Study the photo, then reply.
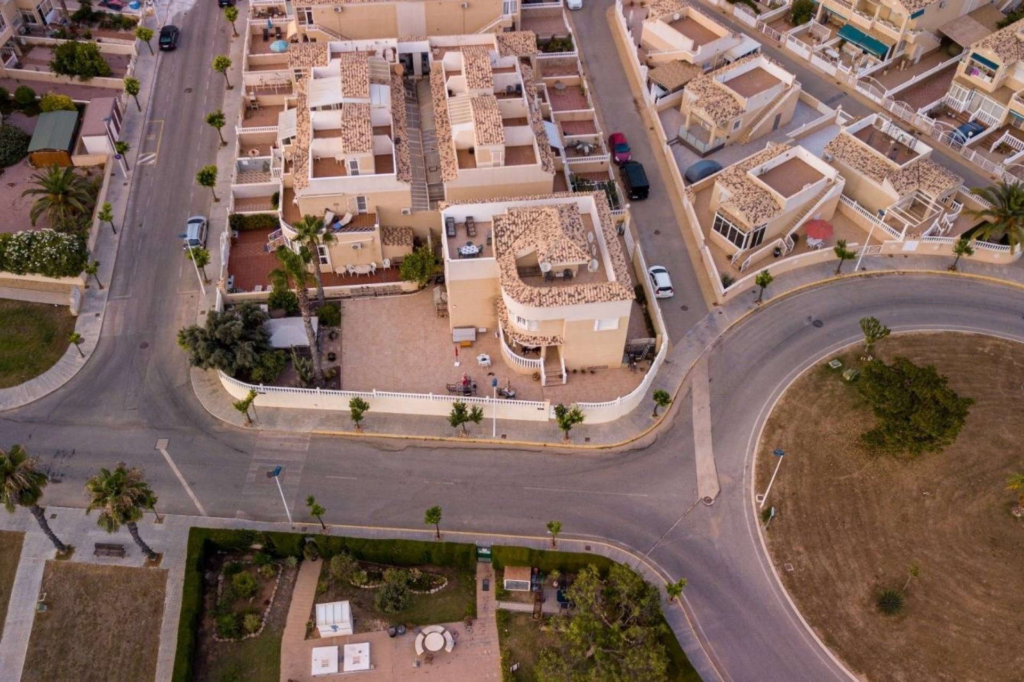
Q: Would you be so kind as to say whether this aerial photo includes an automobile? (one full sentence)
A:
Yes, an automobile is visible in the scene.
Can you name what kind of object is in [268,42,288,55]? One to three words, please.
umbrella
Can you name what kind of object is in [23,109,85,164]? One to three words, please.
shed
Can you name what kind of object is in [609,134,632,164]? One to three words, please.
car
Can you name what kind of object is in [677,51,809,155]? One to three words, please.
house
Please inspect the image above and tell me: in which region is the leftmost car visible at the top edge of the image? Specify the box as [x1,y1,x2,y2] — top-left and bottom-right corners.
[157,25,180,51]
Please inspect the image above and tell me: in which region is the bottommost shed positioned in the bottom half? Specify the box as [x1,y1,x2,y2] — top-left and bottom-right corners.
[314,588,353,637]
